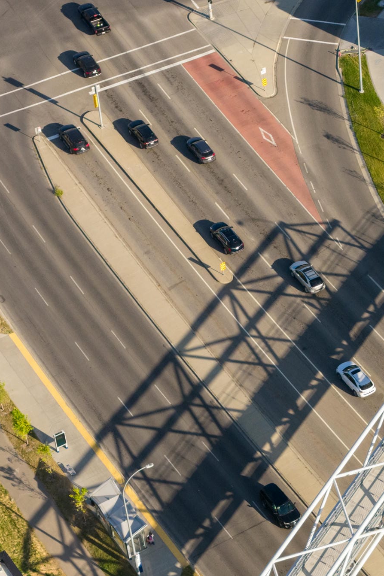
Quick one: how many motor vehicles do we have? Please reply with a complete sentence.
Looking from above, you can make out 9 motor vehicles.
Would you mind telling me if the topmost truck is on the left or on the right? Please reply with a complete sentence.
The topmost truck is on the left side of the image.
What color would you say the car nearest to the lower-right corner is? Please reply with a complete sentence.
The color of the car nearest to the lower-right corner is black.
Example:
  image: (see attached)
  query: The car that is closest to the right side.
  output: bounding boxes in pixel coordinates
[336,361,377,401]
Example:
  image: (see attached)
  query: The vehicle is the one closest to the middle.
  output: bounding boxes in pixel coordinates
[209,221,244,258]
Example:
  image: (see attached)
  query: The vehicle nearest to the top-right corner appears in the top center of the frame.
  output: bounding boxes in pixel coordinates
[186,136,218,168]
